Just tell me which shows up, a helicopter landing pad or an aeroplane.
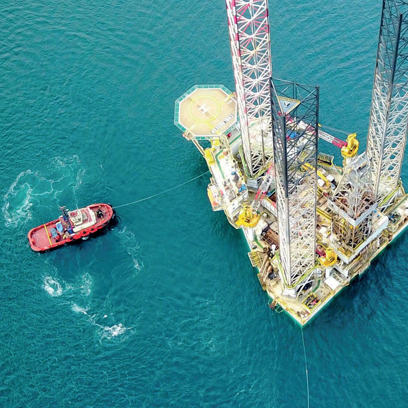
helicopter landing pad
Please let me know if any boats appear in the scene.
Yes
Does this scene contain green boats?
No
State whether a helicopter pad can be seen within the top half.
Yes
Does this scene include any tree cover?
No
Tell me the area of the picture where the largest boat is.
left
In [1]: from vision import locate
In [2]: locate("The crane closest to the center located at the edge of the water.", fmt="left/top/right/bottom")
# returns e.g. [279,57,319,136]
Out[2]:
[240,149,282,245]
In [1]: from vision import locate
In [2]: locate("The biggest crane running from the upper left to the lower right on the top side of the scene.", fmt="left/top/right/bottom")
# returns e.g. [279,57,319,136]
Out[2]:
[282,111,361,177]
